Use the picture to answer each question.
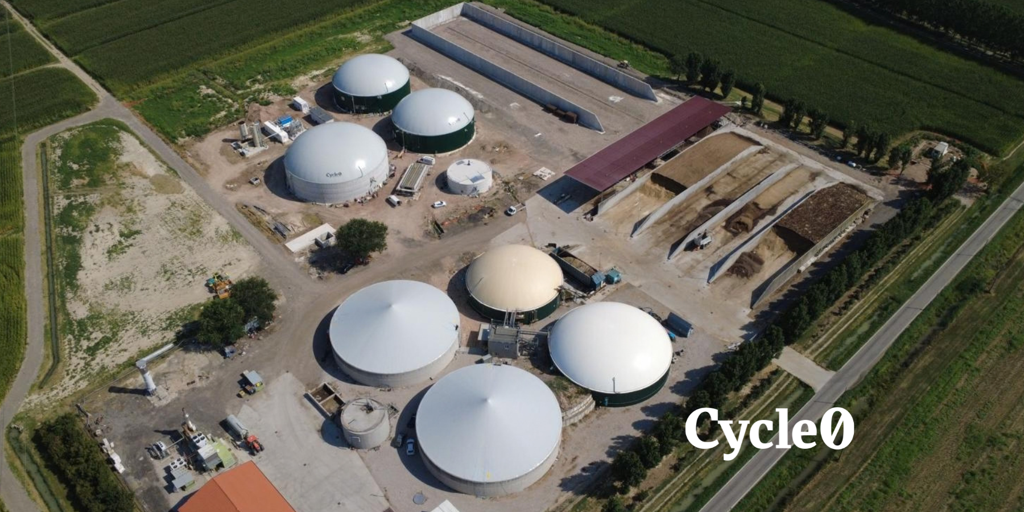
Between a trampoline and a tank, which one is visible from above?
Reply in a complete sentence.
Of the two, only a tank appears.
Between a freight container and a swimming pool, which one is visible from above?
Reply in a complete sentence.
It is a freight container that can be seen here.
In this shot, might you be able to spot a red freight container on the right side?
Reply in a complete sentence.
No, on the right side there is no red freight container.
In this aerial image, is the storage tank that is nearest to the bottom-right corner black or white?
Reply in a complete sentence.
The storage tank that is nearest to the bottom-right corner looks white in the image.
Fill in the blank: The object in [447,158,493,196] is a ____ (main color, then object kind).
white storage tank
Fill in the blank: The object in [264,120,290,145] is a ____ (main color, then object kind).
white shipping container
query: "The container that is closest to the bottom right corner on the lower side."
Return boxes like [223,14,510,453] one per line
[667,314,694,339]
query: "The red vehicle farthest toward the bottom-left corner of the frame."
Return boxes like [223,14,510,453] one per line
[245,431,265,452]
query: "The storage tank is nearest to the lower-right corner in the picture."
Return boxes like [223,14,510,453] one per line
[548,302,673,407]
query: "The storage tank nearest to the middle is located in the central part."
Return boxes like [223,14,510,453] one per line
[466,245,564,324]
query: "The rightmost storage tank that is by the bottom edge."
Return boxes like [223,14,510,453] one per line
[415,363,563,498]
